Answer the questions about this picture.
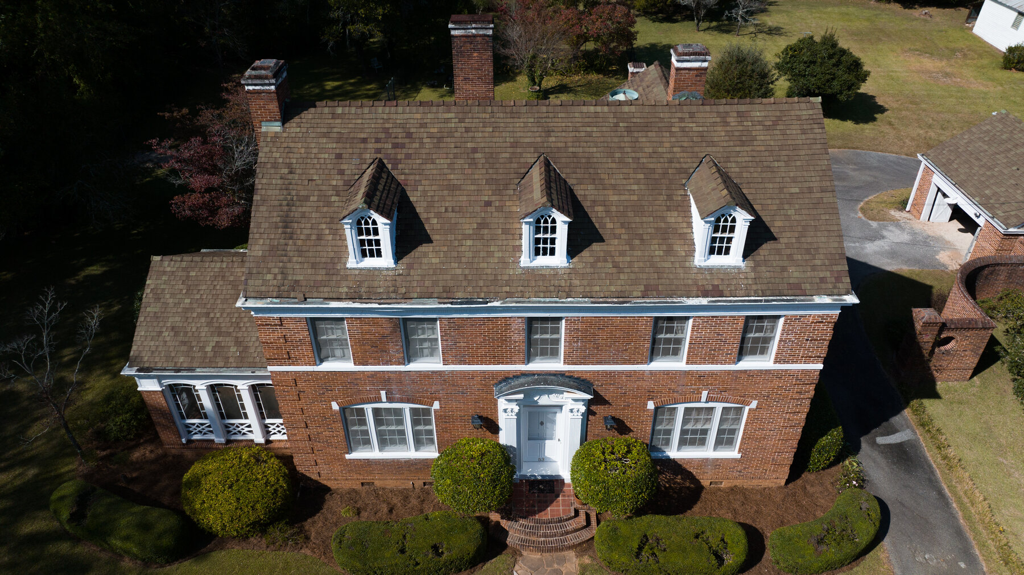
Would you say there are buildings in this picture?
Yes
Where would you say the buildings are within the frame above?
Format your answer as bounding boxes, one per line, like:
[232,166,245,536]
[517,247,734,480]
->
[117,8,859,489]
[905,109,1024,264]
[948,0,1024,53]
